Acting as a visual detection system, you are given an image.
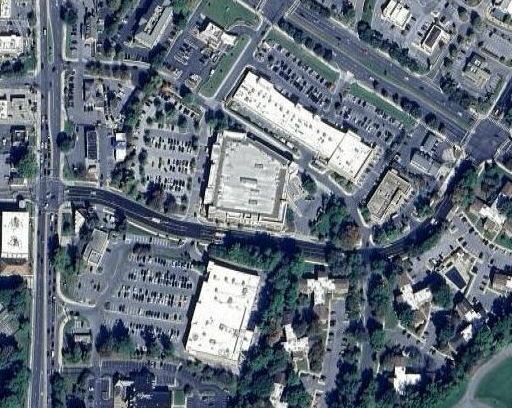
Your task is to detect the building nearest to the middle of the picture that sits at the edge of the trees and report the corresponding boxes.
[205,131,293,228]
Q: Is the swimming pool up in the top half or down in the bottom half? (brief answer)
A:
bottom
